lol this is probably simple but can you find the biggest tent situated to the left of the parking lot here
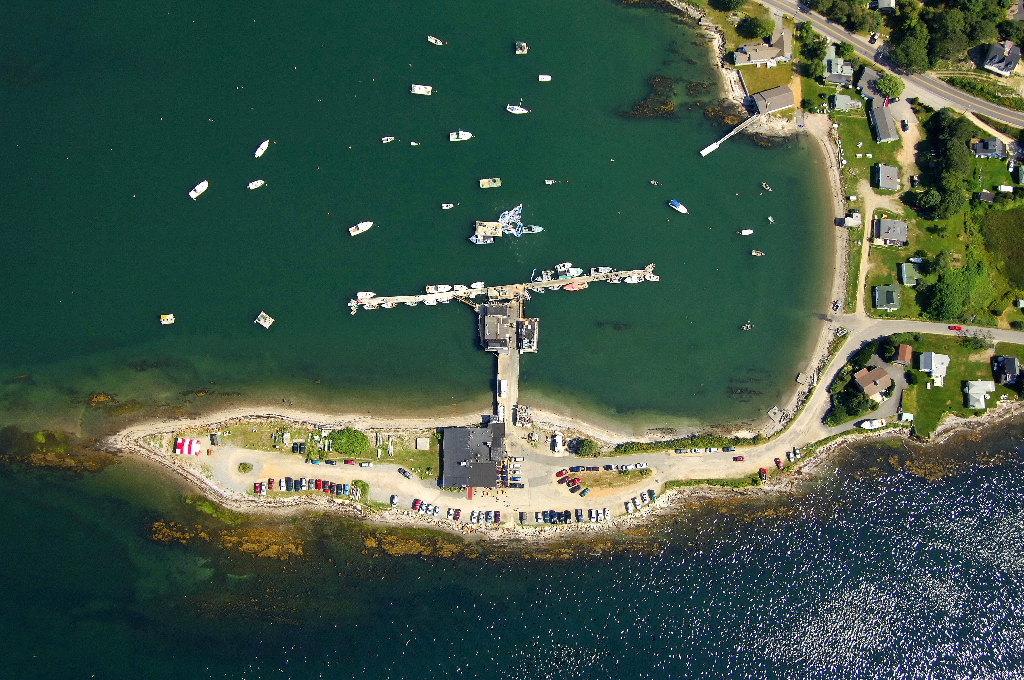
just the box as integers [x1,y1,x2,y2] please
[176,438,202,456]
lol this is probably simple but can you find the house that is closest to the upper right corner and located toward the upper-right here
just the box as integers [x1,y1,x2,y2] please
[983,41,1019,77]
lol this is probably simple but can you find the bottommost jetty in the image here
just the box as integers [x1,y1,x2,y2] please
[497,354,520,436]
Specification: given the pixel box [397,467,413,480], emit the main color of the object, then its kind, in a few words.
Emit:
gray vehicle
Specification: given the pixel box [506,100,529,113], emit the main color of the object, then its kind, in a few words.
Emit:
white boat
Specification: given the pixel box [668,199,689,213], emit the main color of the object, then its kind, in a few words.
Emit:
white boat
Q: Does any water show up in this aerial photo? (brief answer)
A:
Yes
